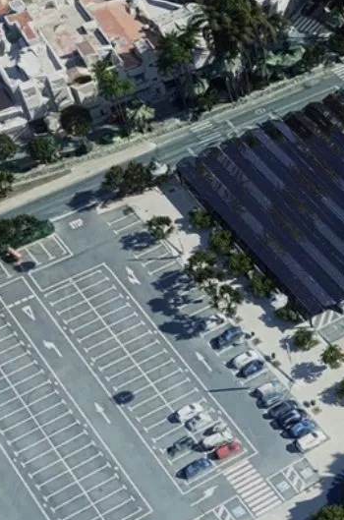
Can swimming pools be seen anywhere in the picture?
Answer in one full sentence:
No, there is no swimming pool in the image.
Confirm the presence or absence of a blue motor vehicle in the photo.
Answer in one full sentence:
Yes, a blue motor vehicle can be made out from above.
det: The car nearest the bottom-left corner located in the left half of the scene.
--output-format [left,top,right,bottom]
[111,390,137,407]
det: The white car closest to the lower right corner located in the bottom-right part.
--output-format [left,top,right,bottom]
[294,432,327,454]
